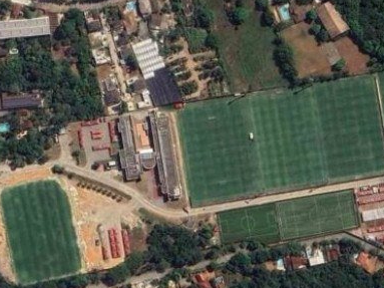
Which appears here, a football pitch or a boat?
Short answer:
football pitch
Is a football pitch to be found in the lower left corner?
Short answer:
Yes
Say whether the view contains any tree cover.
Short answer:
Yes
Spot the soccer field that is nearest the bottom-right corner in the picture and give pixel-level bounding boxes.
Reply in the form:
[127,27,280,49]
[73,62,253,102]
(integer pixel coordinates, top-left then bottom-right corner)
[278,191,359,238]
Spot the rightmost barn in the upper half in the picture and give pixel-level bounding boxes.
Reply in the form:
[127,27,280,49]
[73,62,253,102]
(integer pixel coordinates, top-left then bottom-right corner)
[317,1,350,38]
